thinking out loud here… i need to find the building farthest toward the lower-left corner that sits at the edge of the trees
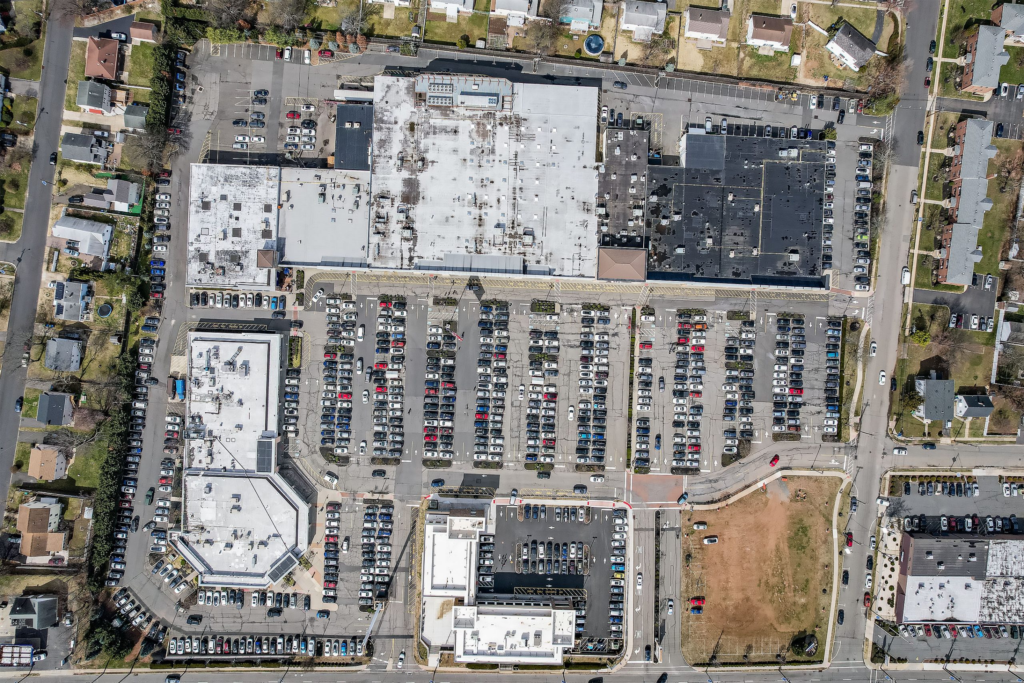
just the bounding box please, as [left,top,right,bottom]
[15,589,69,633]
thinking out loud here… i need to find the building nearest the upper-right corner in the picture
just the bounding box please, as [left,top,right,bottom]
[983,1,1024,42]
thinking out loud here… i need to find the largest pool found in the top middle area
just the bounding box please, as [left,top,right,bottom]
[585,33,604,54]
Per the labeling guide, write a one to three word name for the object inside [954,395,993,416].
house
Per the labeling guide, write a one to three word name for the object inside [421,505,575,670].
building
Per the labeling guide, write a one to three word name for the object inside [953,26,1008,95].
building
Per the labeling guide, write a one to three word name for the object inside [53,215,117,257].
house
